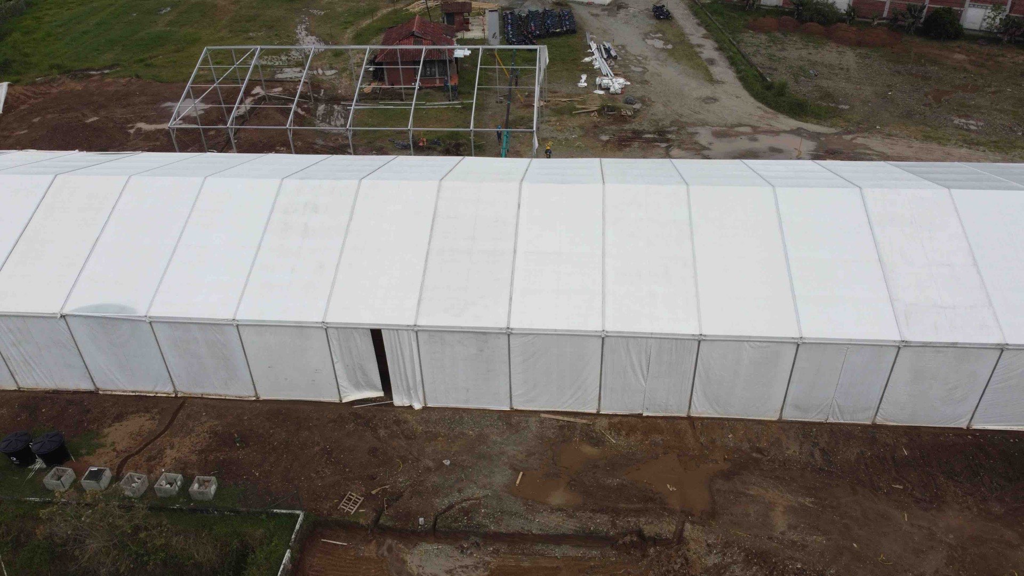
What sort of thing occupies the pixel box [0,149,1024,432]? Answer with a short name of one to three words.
tent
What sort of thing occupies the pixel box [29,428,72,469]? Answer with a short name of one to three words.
water tank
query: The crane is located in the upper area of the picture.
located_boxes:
[499,49,517,157]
